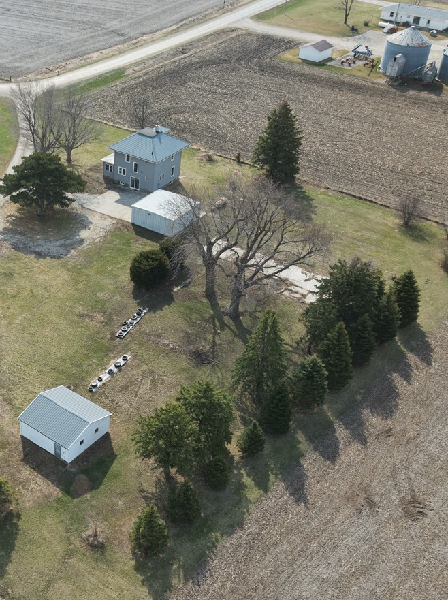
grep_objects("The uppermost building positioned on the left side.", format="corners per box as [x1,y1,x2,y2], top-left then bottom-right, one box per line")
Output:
[101,128,188,193]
